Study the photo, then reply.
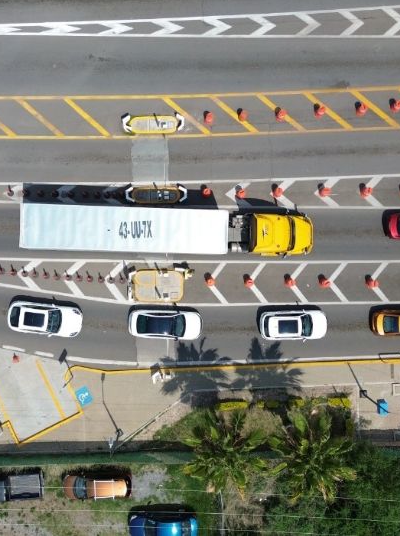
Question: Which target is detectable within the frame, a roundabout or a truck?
truck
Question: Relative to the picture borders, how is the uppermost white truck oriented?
from side to side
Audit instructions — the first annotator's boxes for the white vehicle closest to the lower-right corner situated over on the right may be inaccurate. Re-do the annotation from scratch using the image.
[258,308,325,345]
